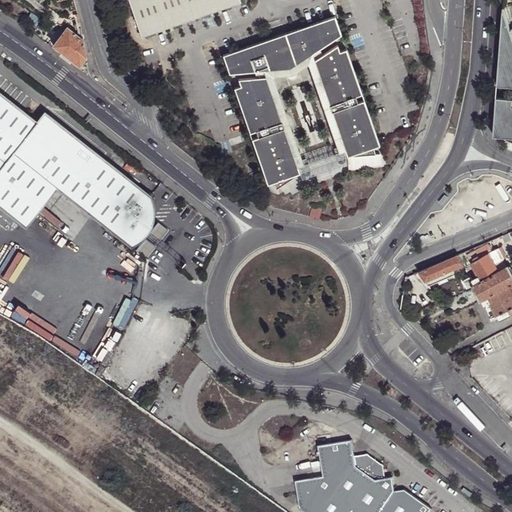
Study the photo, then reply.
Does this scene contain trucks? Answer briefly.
Yes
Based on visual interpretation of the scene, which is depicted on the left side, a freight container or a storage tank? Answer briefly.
freight container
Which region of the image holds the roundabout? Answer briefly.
center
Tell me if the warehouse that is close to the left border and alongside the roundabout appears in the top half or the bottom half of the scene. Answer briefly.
top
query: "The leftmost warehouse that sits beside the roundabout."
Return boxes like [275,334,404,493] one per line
[0,93,156,247]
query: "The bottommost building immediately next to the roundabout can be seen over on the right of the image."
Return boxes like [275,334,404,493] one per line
[295,440,432,512]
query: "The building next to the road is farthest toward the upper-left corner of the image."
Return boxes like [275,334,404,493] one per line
[53,28,86,68]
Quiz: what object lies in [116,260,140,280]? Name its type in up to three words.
vehicle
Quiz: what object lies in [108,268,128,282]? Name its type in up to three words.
work vehicle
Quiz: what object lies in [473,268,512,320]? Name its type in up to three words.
house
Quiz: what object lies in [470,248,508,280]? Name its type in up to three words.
house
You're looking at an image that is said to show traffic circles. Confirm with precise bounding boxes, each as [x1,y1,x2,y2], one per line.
[206,222,370,386]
